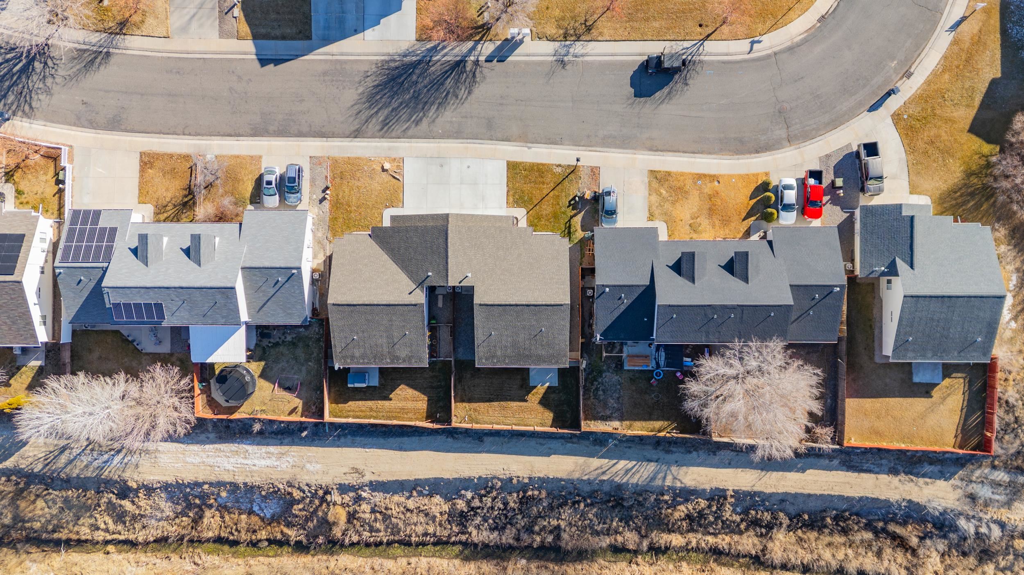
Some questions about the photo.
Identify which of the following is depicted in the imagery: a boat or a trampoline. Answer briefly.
trampoline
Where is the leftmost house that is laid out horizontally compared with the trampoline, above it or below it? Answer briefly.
above it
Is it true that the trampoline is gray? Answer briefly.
Yes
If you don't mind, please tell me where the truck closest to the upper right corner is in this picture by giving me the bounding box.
[857,141,884,196]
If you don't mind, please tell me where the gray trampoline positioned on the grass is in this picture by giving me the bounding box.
[208,362,255,406]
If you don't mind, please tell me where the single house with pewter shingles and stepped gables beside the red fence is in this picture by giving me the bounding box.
[853,203,1007,363]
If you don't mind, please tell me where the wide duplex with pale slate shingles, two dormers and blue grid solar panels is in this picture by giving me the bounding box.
[54,208,313,326]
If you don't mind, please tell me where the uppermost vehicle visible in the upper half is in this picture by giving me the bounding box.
[643,51,682,73]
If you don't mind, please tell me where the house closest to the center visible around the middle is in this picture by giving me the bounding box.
[327,212,571,367]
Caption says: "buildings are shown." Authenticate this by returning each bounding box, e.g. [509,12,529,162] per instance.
[327,212,571,367]
[593,226,848,344]
[54,208,313,326]
[853,203,1007,363]
[0,208,52,347]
